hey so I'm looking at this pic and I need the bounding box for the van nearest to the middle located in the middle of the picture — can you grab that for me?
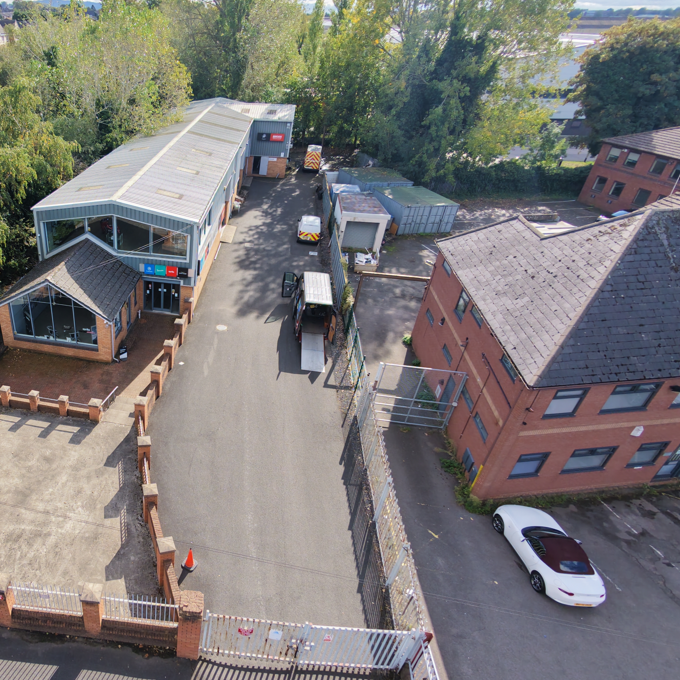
[276,278,346,376]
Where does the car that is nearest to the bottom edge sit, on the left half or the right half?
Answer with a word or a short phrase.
right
